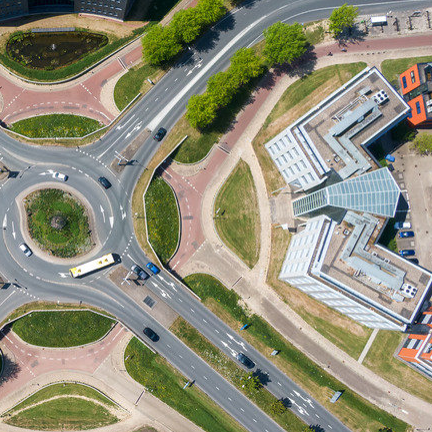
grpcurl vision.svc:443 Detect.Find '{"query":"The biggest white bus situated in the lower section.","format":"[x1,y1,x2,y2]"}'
[69,251,120,279]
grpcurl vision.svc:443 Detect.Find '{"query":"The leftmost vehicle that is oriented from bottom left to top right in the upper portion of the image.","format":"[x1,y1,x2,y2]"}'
[152,126,168,143]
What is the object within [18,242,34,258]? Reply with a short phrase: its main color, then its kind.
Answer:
white car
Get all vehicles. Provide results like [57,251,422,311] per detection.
[403,256,423,267]
[396,230,416,238]
[236,351,256,369]
[69,251,120,279]
[142,325,161,342]
[398,248,417,257]
[97,175,113,190]
[152,126,168,143]
[392,221,414,229]
[145,261,162,275]
[130,264,148,280]
[18,242,34,258]
[50,171,69,182]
